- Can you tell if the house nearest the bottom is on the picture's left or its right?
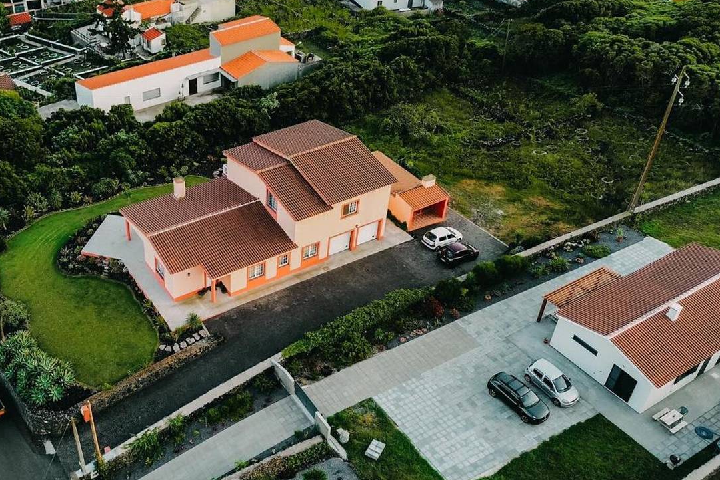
right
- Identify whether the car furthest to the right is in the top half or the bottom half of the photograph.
bottom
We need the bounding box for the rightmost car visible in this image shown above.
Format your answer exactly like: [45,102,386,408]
[521,359,587,406]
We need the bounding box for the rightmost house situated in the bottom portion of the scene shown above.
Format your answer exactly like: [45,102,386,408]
[548,242,720,409]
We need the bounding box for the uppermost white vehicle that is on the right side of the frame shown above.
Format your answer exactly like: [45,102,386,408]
[420,228,464,254]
